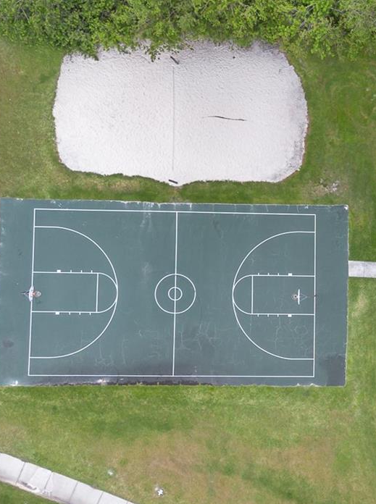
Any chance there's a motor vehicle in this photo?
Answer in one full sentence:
No, the photo shows no motor vehicle.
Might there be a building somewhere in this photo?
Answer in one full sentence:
No, the frame has no building in it.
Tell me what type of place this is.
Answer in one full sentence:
It's a sports ground.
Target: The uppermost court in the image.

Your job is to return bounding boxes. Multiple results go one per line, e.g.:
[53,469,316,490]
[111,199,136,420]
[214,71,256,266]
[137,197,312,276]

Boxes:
[52,35,309,187]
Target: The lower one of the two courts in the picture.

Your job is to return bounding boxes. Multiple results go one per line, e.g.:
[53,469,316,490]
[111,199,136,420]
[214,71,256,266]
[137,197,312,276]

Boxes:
[0,197,349,387]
